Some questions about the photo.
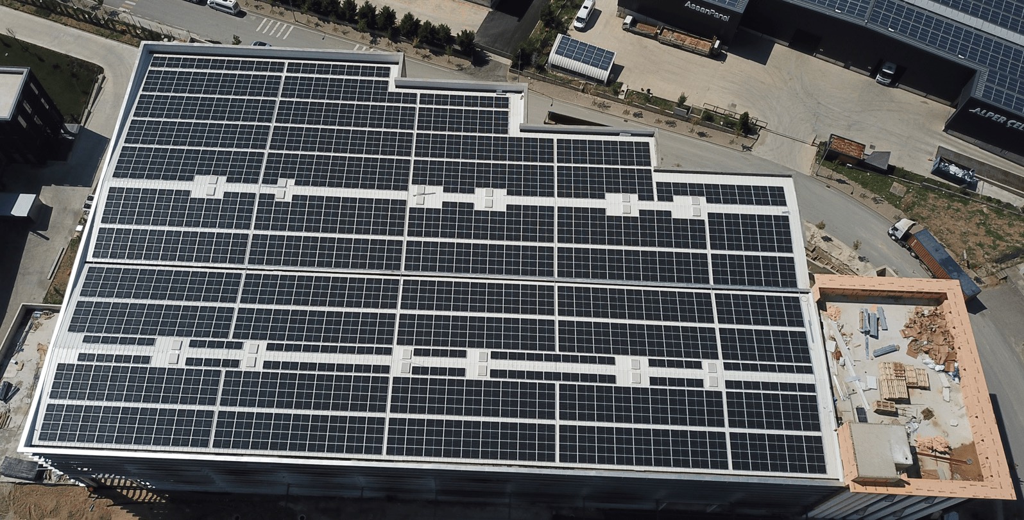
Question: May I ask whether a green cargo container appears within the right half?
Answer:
No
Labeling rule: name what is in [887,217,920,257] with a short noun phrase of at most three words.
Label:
vehicle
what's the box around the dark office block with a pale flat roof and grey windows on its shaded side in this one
[0,67,64,168]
